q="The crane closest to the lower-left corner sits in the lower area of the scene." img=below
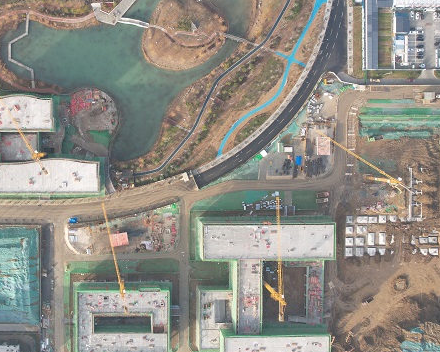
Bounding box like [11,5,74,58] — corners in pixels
[101,203,126,318]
